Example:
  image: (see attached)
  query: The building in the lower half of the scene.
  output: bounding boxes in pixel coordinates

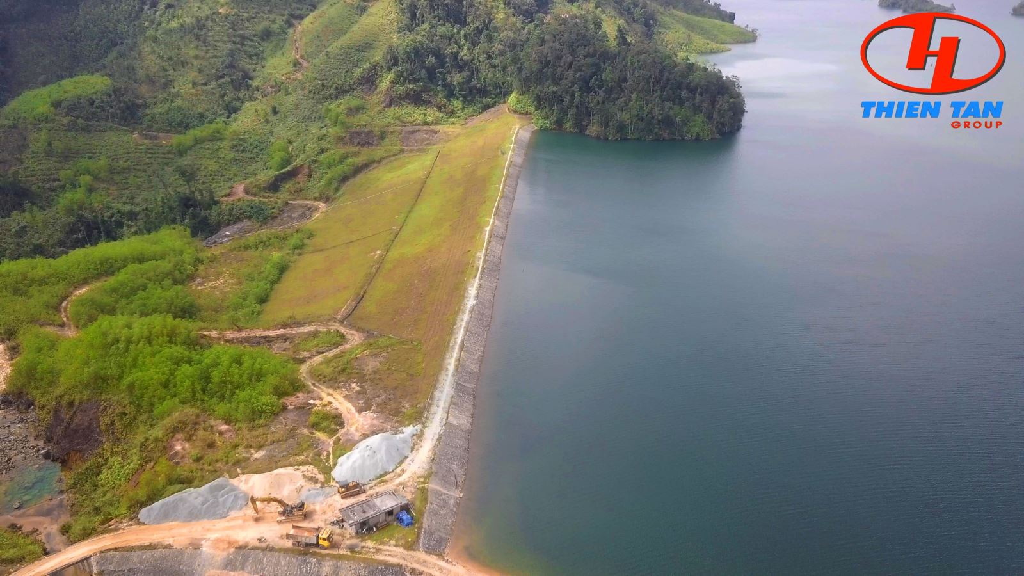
[344,484,412,534]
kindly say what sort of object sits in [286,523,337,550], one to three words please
truck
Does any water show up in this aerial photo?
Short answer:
Yes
